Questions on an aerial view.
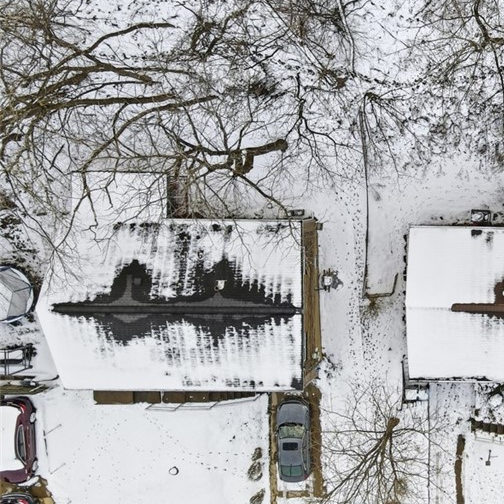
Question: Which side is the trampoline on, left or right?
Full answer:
The trampoline is on the left side of the image.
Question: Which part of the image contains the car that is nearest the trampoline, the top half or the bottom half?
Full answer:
The car that is nearest the trampoline is in the bottom half of the image.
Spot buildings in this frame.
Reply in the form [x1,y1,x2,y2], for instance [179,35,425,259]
[404,225,504,403]
[36,173,319,393]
